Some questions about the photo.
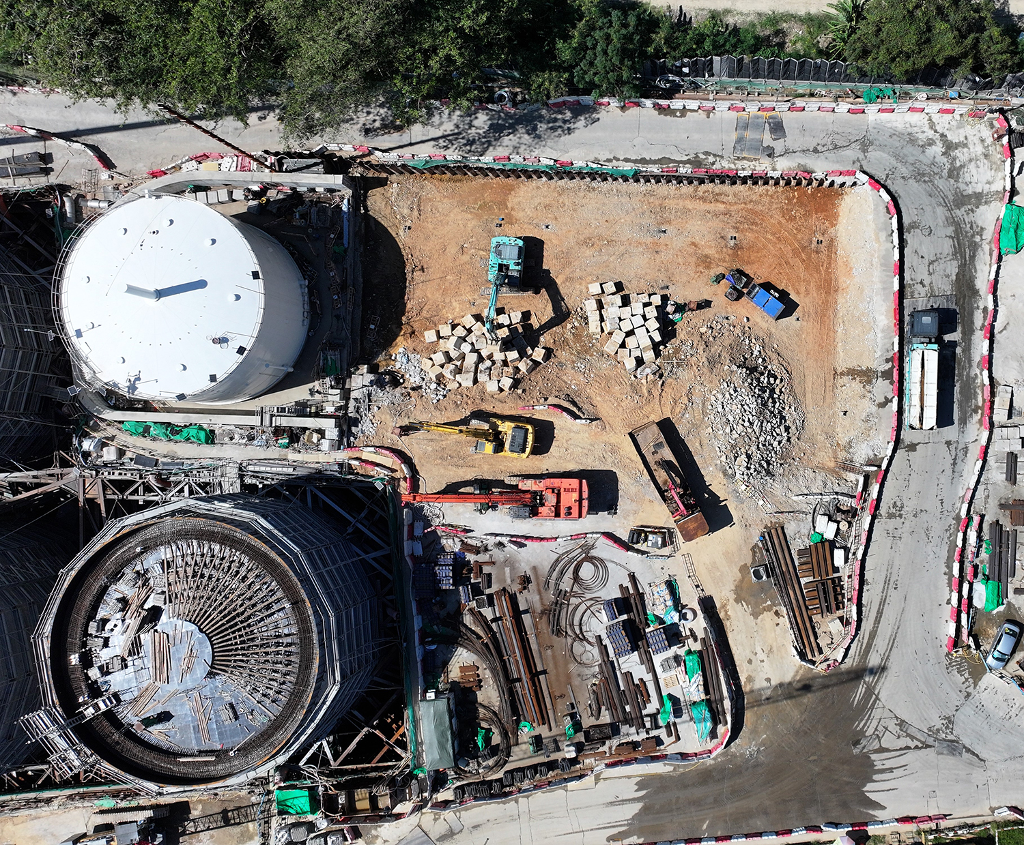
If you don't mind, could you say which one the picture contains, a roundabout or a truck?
truck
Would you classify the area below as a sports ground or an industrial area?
industrial area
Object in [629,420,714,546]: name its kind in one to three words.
truck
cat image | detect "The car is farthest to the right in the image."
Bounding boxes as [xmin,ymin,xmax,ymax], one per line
[985,617,1022,669]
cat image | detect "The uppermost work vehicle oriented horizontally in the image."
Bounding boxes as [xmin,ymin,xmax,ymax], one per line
[390,414,541,459]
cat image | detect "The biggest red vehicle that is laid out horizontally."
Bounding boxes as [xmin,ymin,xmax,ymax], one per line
[397,476,587,525]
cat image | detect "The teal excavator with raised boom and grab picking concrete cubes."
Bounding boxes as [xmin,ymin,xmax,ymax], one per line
[479,225,537,345]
